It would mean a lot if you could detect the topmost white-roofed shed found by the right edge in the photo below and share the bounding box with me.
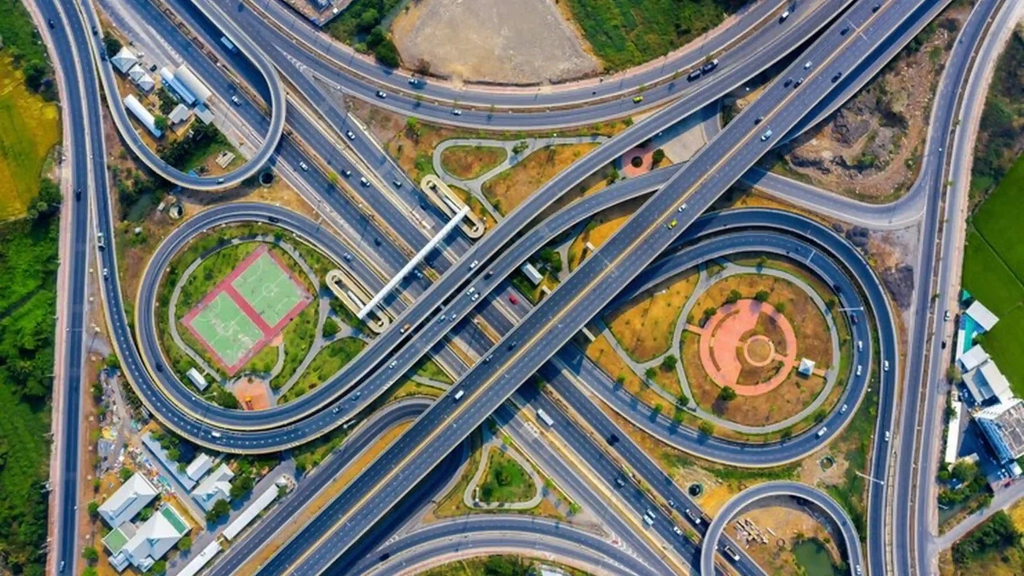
[960,300,1000,331]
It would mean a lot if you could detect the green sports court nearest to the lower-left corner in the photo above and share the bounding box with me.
[181,283,272,376]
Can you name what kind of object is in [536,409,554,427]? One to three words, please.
vehicle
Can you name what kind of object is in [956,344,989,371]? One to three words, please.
building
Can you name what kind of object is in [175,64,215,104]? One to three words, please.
shed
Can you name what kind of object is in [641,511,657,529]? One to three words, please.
vehicle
